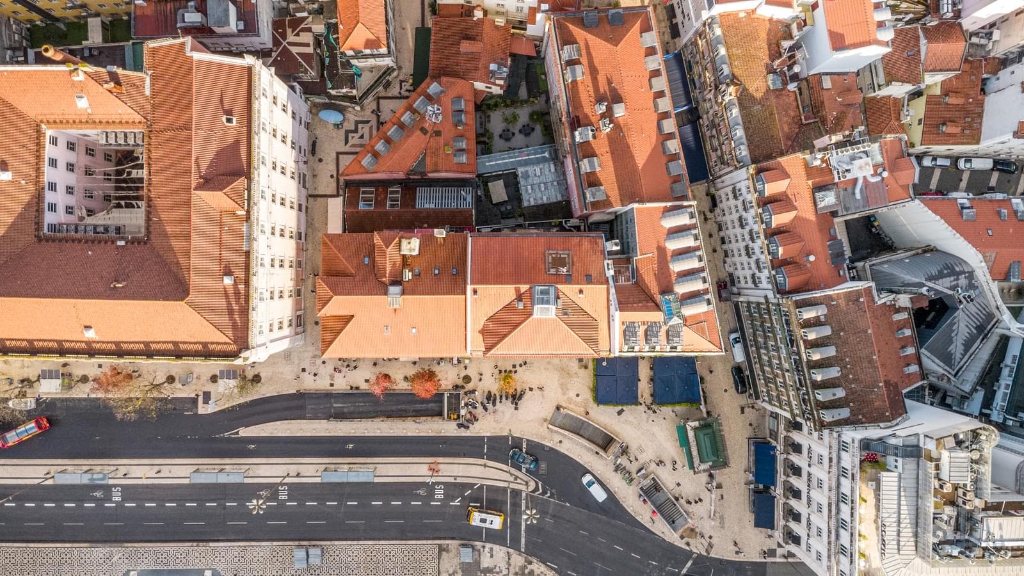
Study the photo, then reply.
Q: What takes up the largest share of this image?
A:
buildings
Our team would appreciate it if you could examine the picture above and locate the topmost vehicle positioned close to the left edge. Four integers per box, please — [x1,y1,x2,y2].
[3,399,33,412]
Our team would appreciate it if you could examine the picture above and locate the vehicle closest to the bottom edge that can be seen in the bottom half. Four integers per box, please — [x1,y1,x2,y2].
[465,509,504,536]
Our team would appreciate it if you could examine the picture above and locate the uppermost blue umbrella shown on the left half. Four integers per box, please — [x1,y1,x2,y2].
[317,109,344,124]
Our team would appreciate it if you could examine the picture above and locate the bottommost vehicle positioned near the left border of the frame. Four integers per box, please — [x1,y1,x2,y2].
[0,415,50,451]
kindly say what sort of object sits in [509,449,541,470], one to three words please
car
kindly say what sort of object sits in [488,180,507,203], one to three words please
umbrella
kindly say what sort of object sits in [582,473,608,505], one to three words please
car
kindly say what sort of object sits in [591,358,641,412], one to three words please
tent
